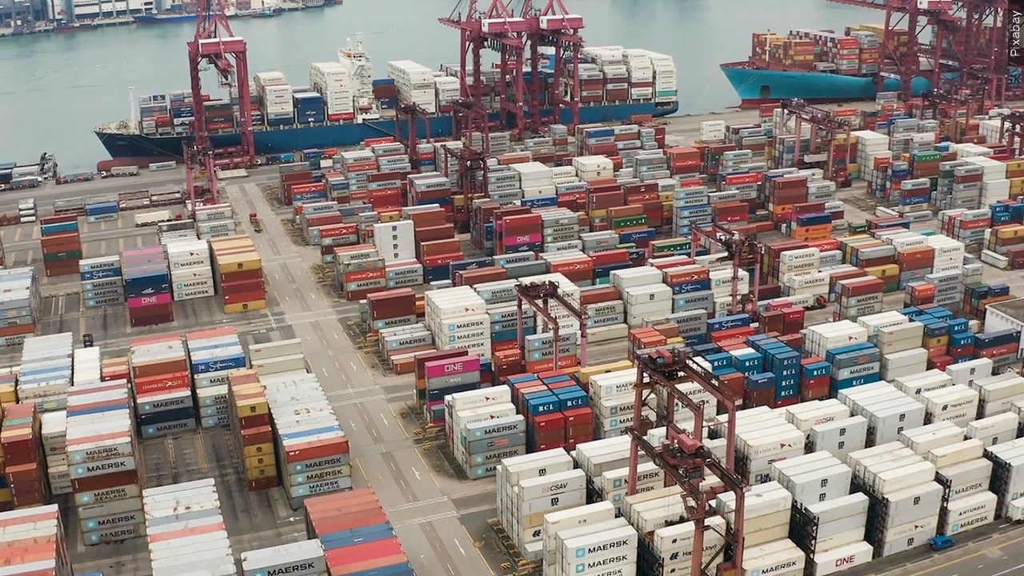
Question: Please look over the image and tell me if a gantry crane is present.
Yes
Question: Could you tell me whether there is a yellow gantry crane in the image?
No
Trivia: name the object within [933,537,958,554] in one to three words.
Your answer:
vehicle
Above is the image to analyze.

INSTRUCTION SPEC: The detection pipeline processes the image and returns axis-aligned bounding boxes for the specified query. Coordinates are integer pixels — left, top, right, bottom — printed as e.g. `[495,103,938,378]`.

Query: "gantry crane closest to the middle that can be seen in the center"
[511,272,599,386]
